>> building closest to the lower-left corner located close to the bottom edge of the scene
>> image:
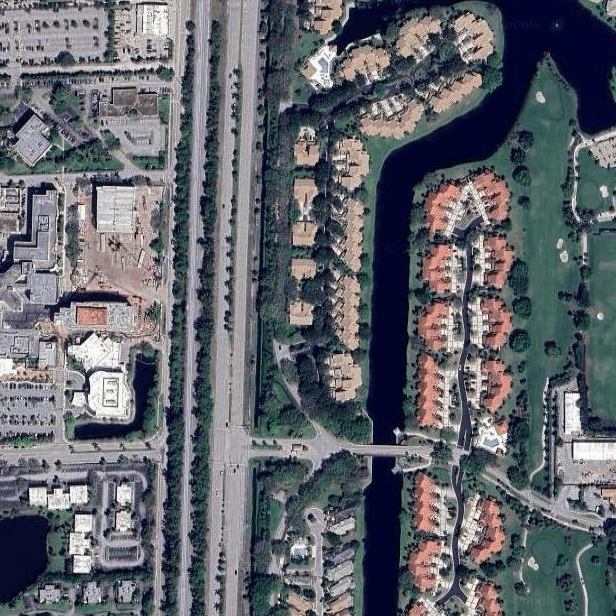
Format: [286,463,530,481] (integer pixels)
[41,585,62,604]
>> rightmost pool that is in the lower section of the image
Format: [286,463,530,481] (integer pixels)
[476,417,507,451]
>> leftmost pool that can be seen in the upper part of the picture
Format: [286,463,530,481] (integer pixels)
[309,46,337,86]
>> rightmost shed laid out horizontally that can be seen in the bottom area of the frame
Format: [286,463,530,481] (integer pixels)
[574,442,616,461]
